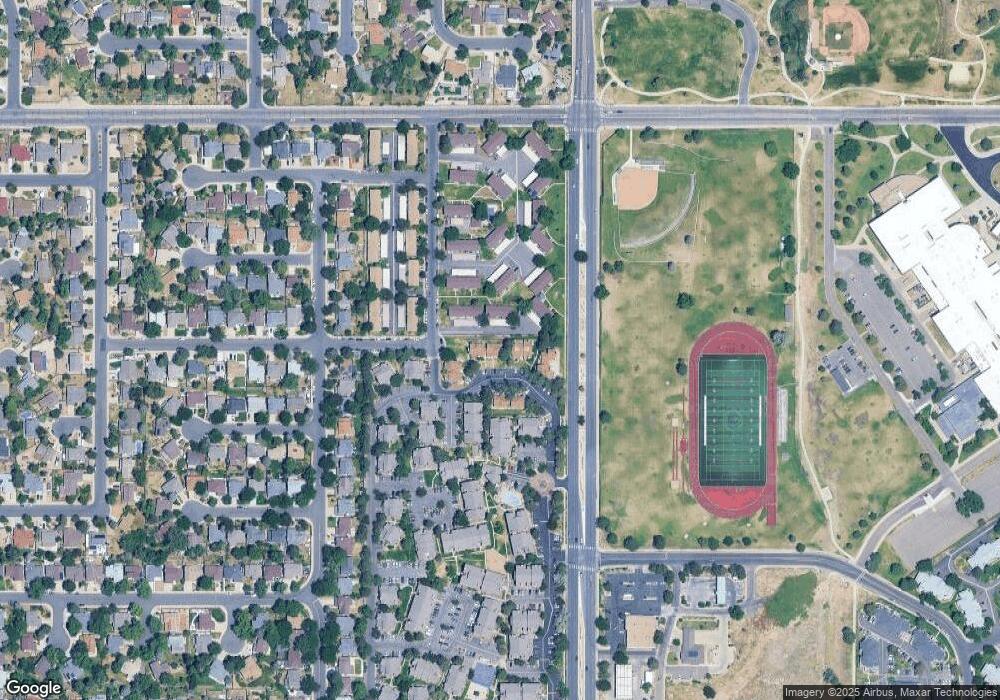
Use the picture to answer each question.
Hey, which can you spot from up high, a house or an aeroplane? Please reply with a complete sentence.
It is a house that can be seen here.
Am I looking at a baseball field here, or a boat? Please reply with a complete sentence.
This aerial view contains a baseball field.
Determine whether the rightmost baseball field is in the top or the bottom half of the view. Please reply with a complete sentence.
You can find the rightmost baseball field in the top half.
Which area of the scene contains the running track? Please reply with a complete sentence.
You can find the running track in the right area of the picture.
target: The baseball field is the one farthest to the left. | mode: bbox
[612,143,726,262]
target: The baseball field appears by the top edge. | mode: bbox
[810,0,870,62]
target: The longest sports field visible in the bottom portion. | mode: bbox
[699,354,767,486]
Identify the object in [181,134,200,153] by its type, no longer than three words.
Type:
house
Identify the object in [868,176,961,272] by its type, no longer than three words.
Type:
building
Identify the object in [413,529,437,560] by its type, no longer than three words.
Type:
building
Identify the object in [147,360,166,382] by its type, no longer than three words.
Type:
house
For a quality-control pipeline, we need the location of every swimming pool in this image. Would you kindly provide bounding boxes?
[484,203,497,219]
[499,483,527,513]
